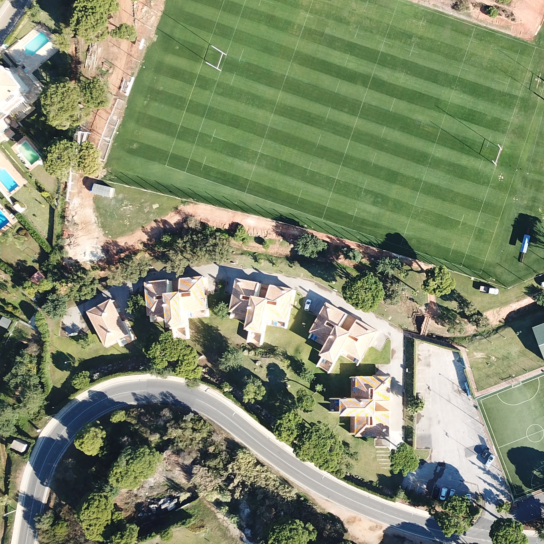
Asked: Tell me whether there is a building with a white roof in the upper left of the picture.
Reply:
Yes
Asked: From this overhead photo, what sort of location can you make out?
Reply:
sports ground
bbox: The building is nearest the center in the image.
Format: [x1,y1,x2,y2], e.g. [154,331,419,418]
[230,279,300,346]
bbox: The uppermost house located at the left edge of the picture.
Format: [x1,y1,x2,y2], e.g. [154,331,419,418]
[0,66,38,140]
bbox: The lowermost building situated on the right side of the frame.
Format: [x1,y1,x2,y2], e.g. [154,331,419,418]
[330,373,392,437]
